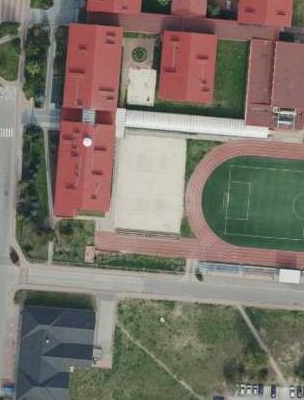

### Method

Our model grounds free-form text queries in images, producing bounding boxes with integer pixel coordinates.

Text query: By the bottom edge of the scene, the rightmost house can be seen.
[18,306,97,400]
